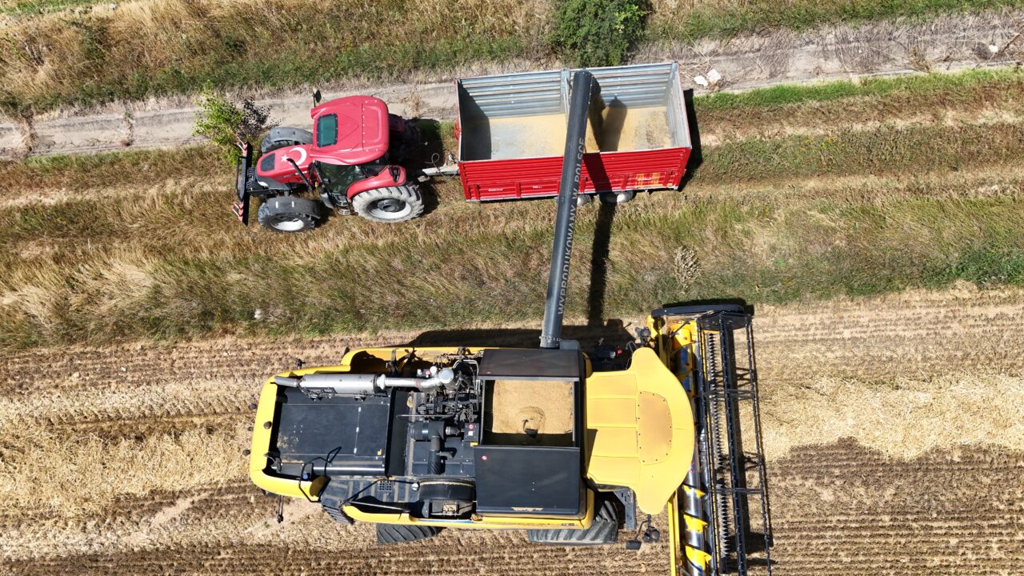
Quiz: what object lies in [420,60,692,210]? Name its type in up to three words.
trailer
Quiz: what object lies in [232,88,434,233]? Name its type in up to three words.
work vehicle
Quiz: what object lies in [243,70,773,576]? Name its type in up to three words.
work vehicle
